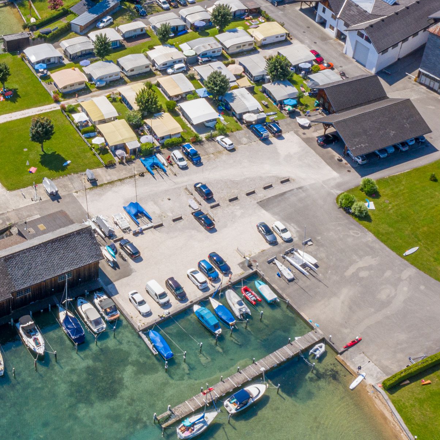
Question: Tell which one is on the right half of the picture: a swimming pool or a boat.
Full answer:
It is a boat that can be seen on the right half of the picture.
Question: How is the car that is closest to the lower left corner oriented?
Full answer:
The car that is closest to the lower left corner has been laid out diagonally relative to the frame.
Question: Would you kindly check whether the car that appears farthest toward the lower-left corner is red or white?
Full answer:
The color of the car that appears farthest toward the lower-left corner is white.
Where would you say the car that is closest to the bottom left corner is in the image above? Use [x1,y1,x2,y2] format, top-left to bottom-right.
[126,291,152,316]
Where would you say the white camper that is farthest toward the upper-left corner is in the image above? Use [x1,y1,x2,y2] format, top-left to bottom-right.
[24,44,61,64]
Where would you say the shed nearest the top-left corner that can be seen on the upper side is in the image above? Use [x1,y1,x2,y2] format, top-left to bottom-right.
[3,32,30,52]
